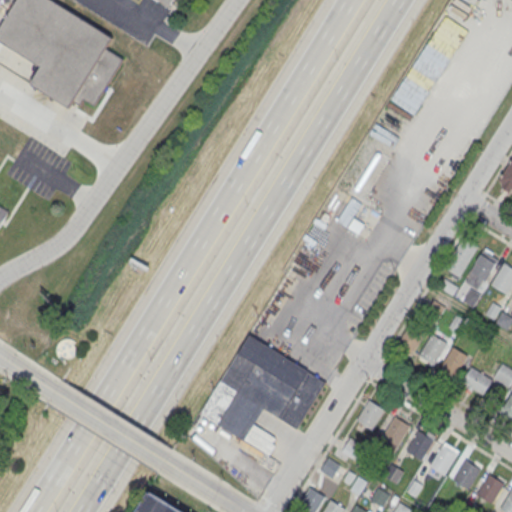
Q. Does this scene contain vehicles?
Yes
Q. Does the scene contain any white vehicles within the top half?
Yes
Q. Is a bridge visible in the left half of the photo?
Yes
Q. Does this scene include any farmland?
No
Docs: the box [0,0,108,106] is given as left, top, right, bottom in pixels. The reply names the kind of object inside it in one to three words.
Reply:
building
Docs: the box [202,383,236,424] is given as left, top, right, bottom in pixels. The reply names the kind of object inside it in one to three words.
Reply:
shed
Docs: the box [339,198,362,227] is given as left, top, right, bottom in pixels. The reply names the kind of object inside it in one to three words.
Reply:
shed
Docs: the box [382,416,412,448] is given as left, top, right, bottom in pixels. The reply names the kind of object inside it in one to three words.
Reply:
house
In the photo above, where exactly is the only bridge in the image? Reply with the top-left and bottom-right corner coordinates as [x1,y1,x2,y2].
[52,383,177,474]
